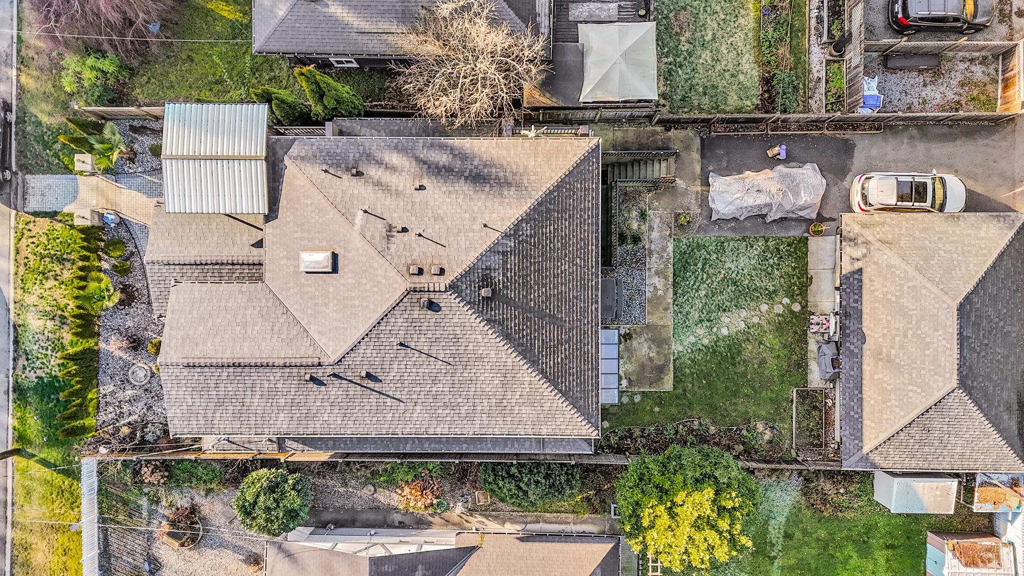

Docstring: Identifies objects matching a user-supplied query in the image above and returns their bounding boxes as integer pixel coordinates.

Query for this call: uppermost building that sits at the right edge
[836,211,1024,473]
